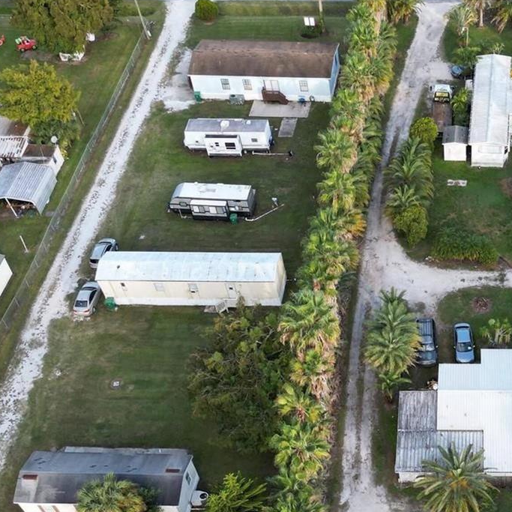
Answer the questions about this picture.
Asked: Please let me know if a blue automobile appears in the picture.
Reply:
Yes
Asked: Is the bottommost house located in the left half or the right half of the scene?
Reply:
left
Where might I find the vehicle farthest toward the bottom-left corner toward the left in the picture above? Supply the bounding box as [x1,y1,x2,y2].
[69,280,102,316]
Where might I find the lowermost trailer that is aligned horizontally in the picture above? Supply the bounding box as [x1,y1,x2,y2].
[170,183,269,220]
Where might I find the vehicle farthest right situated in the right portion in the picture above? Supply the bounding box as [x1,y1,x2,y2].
[453,322,476,363]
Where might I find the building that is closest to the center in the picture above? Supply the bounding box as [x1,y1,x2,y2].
[95,251,285,305]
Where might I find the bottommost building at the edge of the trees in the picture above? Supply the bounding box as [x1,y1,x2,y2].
[14,442,197,512]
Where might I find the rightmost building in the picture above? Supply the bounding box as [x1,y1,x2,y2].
[470,50,512,164]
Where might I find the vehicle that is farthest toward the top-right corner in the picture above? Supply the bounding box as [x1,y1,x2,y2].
[432,87,451,121]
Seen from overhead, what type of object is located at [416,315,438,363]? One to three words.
car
